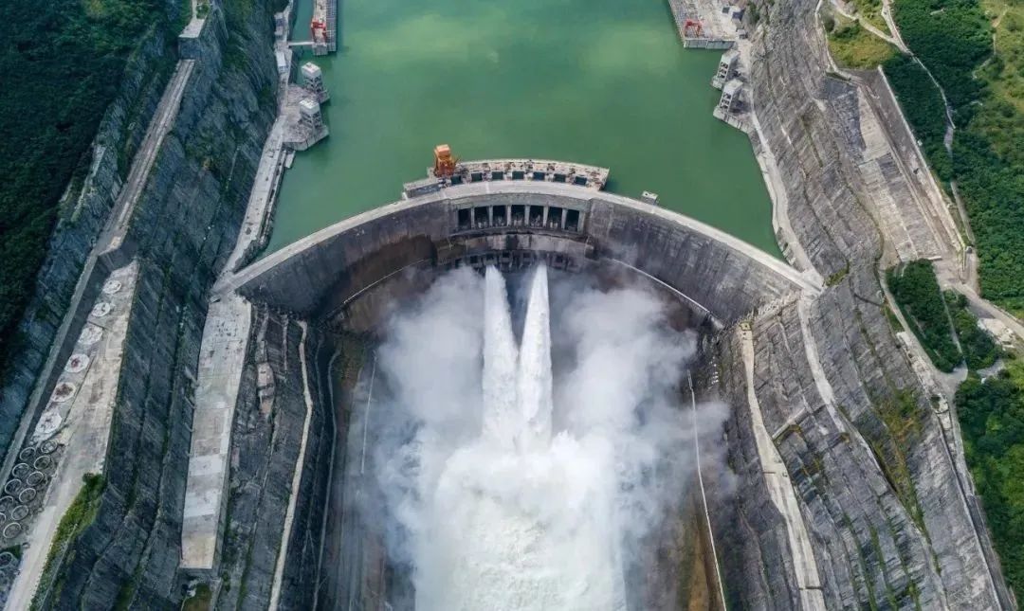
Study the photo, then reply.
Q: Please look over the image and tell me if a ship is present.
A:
No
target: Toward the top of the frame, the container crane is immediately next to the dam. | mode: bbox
[430,144,464,181]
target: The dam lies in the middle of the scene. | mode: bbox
[216,163,822,380]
